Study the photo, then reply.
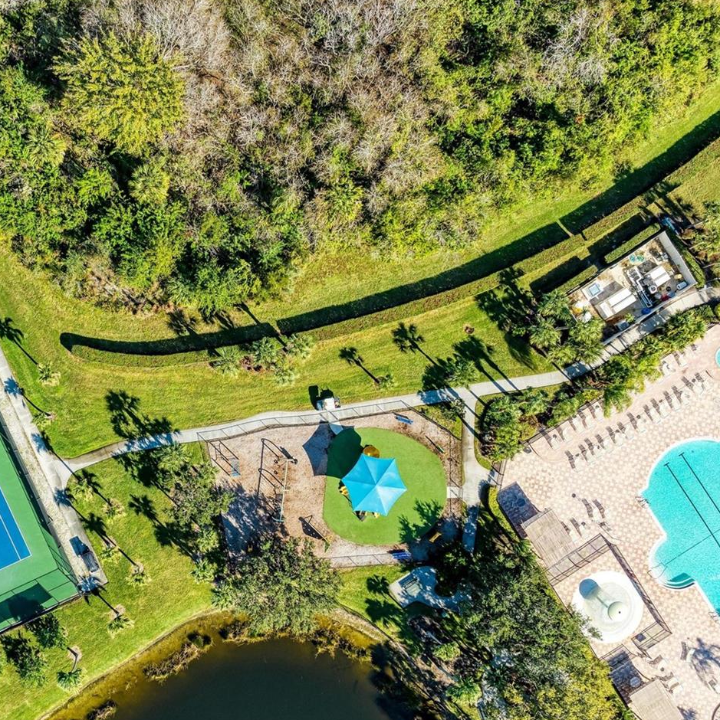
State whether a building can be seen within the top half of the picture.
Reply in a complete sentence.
No, no building can be made out within the top half of the picture.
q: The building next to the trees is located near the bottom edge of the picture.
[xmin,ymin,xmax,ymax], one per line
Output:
[623,674,683,720]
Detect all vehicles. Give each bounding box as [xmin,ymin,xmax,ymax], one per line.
[80,550,97,574]
[315,399,339,411]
